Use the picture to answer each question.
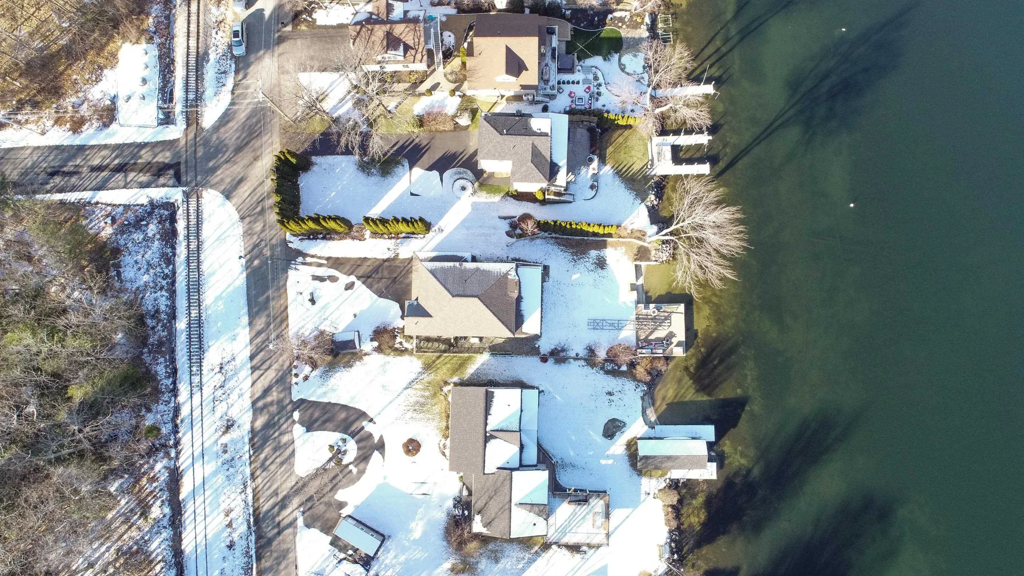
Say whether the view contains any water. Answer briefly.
Yes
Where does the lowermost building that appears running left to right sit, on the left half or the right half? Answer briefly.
right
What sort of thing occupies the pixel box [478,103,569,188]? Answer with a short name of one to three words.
house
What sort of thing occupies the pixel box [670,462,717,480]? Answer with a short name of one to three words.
pier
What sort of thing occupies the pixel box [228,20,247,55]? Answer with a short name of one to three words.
car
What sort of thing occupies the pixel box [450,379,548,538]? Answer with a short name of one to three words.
house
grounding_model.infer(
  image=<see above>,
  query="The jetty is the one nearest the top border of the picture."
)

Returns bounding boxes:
[653,66,720,99]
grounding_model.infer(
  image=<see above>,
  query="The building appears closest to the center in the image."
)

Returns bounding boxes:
[404,252,541,337]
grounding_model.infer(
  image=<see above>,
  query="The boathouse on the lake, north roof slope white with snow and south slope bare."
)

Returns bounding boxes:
[633,437,708,469]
